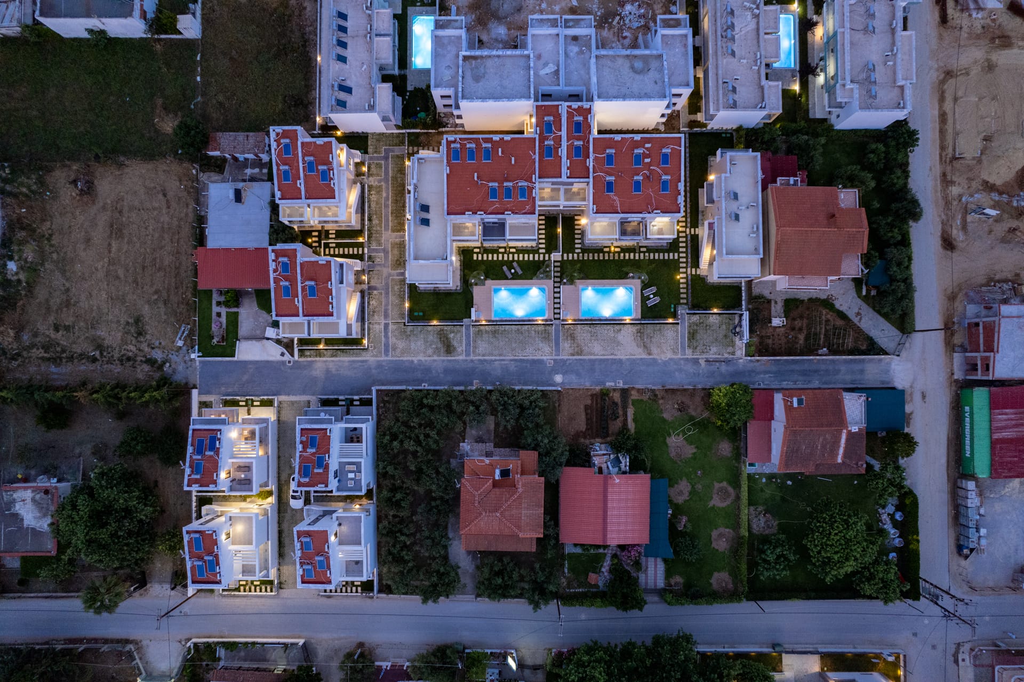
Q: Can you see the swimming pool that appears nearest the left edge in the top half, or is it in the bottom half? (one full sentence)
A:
You can find the swimming pool that appears nearest the left edge in the top half.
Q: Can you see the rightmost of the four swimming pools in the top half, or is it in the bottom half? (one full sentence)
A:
It is in the top half that the rightmost of the four swimming pools appears.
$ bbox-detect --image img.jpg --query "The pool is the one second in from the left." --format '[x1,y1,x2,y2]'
[474,280,552,320]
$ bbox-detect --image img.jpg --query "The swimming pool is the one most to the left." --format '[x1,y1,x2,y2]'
[407,6,441,91]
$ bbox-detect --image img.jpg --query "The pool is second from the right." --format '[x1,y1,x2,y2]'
[562,280,641,320]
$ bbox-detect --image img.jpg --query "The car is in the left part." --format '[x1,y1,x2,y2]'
[286,475,304,509]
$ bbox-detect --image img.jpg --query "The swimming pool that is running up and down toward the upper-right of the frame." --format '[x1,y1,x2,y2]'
[768,4,797,88]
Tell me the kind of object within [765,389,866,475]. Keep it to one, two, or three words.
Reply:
house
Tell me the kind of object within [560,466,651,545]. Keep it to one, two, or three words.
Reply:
house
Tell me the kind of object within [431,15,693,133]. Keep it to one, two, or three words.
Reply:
building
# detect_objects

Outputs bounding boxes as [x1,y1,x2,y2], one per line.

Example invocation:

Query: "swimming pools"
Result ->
[474,280,552,320]
[407,6,441,91]
[562,280,641,320]
[768,4,797,88]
